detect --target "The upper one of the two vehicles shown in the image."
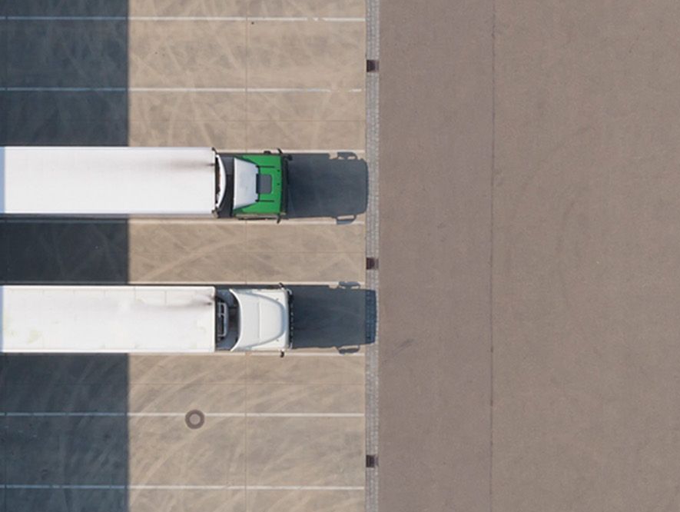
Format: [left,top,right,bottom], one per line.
[0,145,293,222]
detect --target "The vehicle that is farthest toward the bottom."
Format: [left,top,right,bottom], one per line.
[0,281,293,358]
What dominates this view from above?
paved ground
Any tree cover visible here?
No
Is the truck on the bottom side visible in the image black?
No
